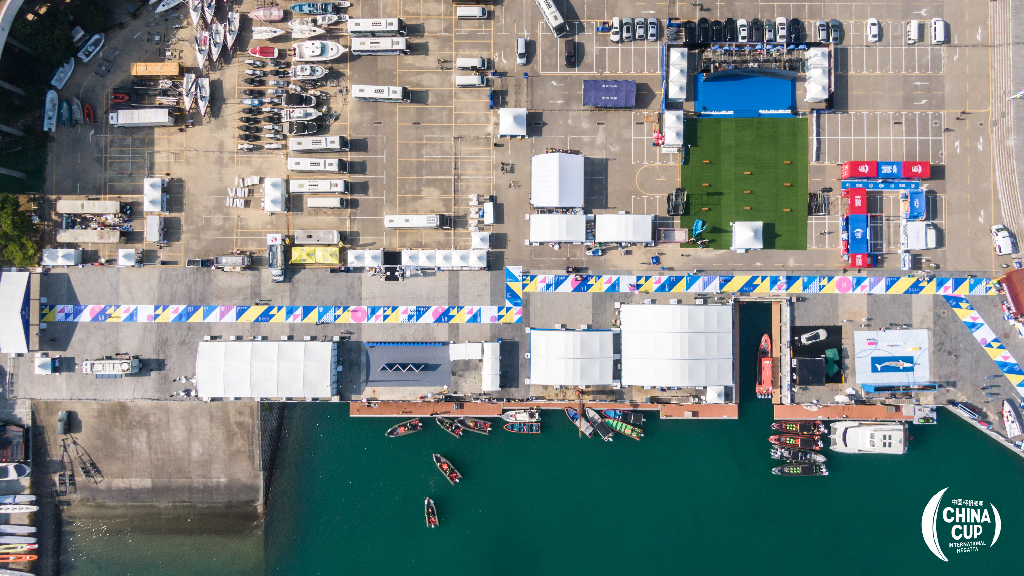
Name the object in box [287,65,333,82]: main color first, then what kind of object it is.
white boat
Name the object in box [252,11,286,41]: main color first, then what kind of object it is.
white boat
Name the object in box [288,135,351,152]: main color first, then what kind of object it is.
white vehicle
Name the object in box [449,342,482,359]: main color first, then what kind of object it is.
white tent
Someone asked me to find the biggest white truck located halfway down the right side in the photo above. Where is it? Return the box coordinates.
[893,220,931,249]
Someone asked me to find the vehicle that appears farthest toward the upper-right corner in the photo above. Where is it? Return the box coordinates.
[928,20,944,46]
